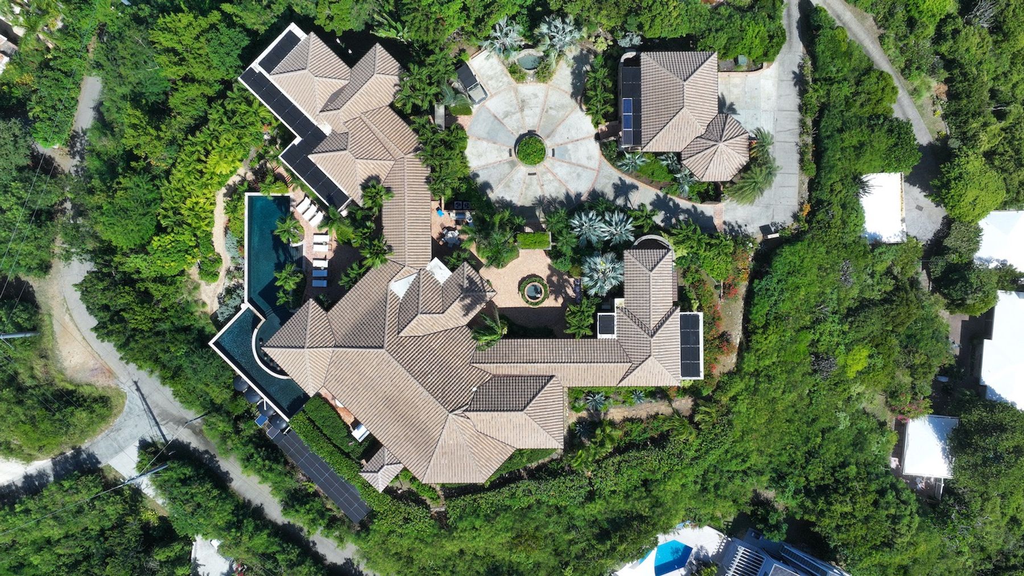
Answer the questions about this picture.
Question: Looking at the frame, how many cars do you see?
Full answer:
I count just 1 car.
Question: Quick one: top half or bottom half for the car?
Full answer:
It is in the top half that the car appears.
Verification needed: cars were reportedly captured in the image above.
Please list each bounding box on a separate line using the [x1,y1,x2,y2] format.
[455,61,490,107]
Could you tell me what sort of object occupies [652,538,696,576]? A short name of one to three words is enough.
swimming pool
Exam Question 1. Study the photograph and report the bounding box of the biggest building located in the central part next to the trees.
[237,22,704,494]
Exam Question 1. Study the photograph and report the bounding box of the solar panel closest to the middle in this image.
[600,316,614,334]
